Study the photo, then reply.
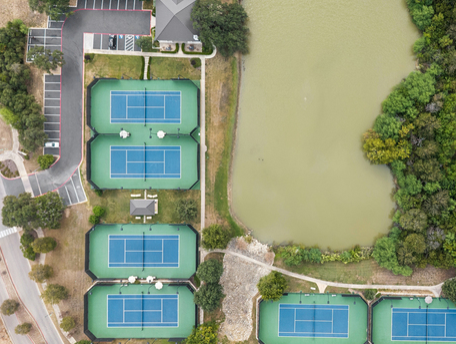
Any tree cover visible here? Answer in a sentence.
Yes, tree cover shows up in the scene.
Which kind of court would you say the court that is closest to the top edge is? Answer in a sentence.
From above, the court that is closest to the top edge can be identified as a tennis court.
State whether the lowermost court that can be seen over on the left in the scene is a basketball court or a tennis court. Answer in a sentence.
The lowermost court that can be seen over on the left in the image is a tennis court.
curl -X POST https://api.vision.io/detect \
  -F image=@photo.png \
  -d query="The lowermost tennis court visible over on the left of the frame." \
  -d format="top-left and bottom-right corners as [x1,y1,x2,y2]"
[88,285,196,338]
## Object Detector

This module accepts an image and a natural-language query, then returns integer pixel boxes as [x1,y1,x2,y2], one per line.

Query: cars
[109,35,117,49]
[44,141,60,148]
